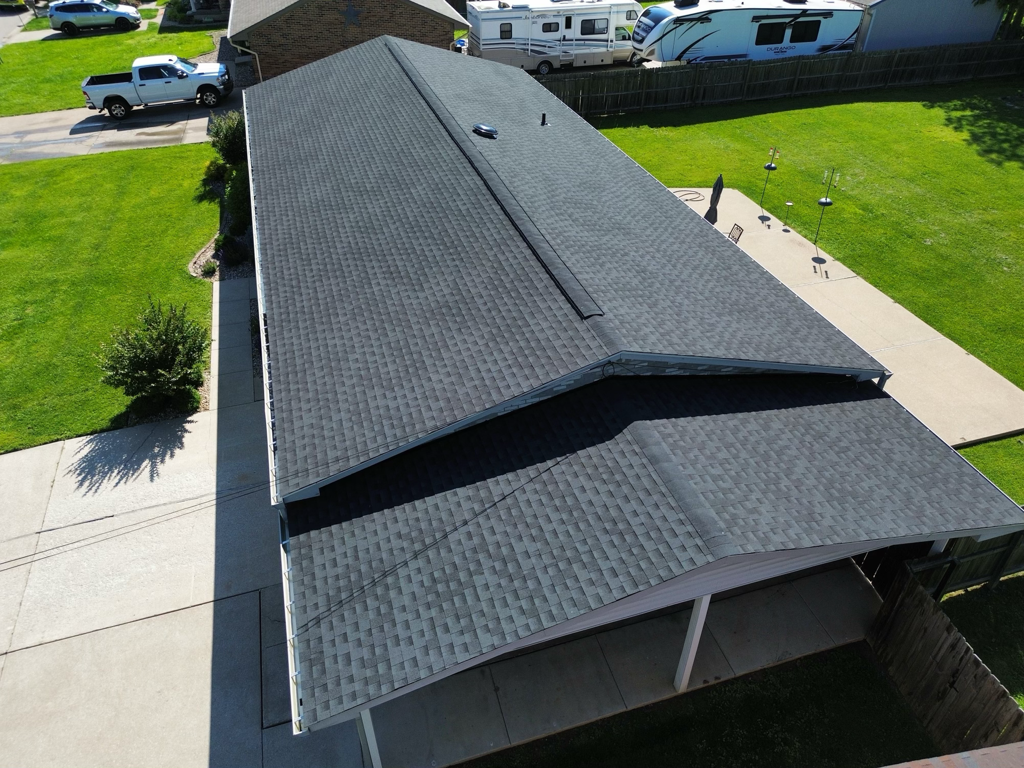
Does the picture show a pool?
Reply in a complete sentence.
No, there isn't any pool down there.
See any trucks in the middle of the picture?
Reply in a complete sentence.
No, I can find no truck in the middle of the picture.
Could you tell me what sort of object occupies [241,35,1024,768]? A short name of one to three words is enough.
house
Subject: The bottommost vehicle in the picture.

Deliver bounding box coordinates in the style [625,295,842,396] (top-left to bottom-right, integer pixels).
[80,53,236,117]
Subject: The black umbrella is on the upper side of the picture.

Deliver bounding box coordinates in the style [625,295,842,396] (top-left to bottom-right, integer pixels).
[704,173,722,227]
